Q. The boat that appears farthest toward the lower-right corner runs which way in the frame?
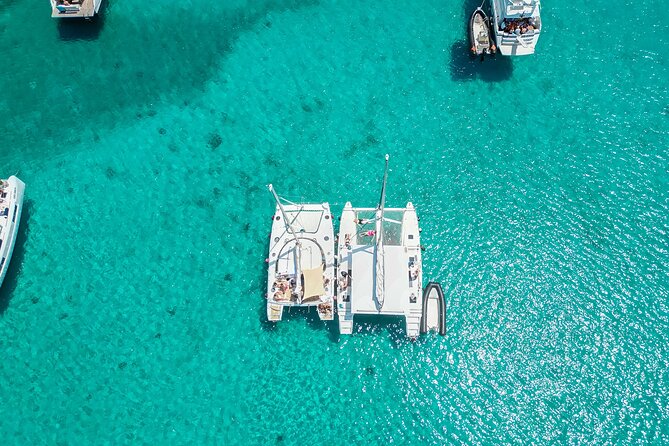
from top to bottom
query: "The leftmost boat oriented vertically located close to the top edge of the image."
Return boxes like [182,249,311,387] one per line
[471,6,497,63]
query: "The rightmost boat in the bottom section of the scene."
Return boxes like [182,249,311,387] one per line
[420,282,446,336]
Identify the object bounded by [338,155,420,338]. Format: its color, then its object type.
white boat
